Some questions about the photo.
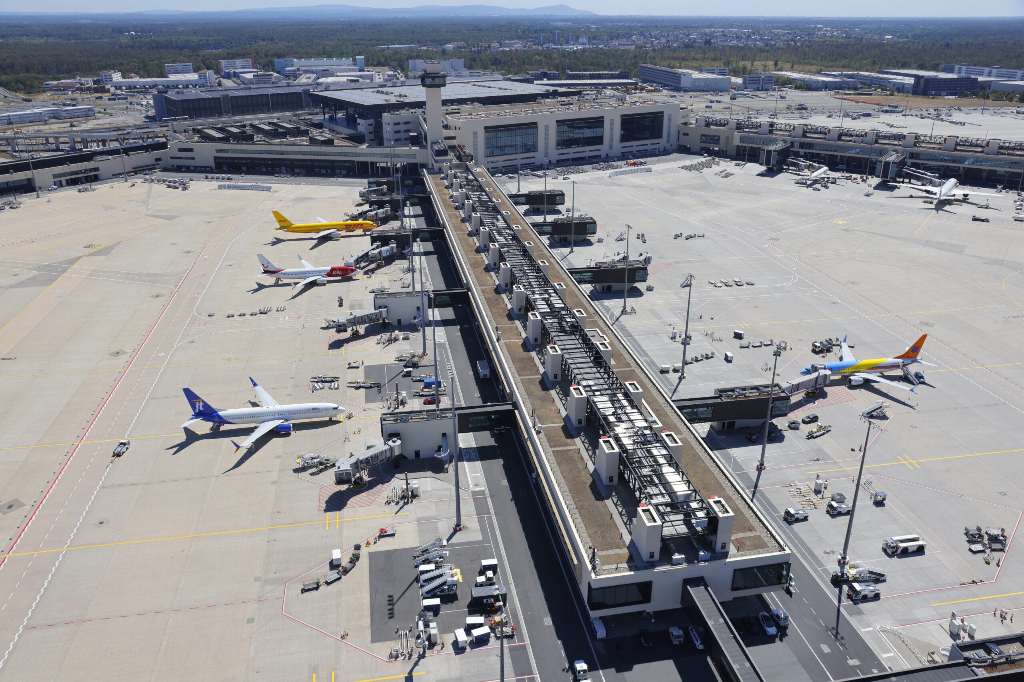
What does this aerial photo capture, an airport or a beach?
airport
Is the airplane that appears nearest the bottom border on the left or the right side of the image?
left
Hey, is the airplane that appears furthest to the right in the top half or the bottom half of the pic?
top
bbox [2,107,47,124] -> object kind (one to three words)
building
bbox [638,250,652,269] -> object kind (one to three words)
jet bridge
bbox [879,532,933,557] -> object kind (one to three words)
work vehicle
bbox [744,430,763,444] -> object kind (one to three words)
vehicle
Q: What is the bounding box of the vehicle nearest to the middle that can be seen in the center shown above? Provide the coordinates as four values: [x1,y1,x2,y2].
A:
[476,359,490,376]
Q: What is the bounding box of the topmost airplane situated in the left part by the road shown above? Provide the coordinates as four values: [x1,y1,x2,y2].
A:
[277,208,377,237]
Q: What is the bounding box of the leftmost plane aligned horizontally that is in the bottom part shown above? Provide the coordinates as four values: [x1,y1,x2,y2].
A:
[182,375,346,454]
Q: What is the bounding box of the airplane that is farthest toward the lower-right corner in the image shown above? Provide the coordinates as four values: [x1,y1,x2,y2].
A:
[799,333,937,396]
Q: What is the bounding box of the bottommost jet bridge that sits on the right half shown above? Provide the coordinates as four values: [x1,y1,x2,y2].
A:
[790,365,830,402]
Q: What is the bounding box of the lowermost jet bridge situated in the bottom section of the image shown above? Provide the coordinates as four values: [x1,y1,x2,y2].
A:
[330,435,403,494]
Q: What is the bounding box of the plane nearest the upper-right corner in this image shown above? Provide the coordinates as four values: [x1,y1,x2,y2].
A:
[891,178,1013,201]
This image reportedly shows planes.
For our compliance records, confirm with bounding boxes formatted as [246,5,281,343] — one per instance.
[799,333,937,396]
[277,208,377,237]
[790,166,849,181]
[259,252,362,284]
[891,178,1013,201]
[182,375,346,454]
